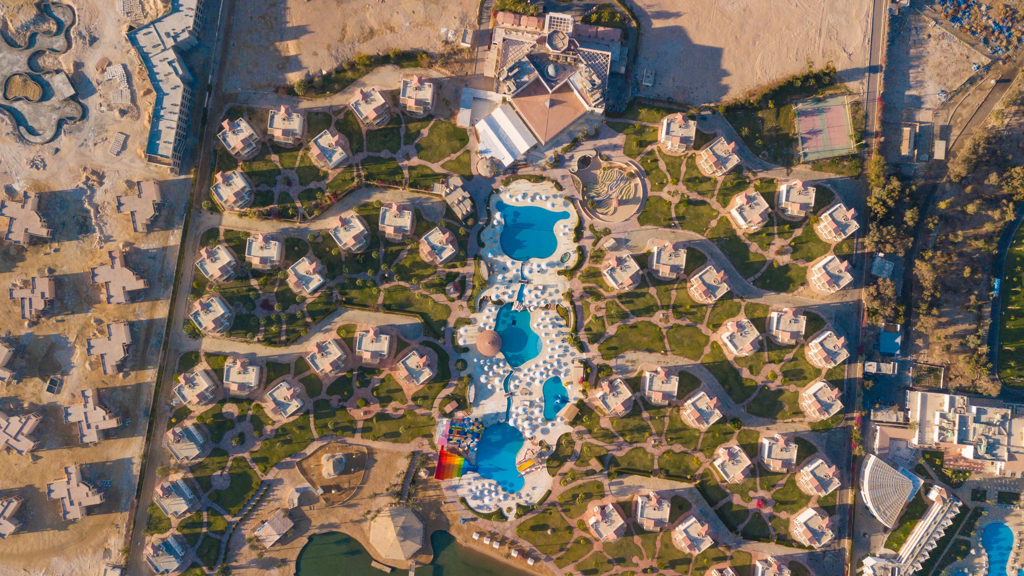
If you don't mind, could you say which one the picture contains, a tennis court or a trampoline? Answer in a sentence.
Of the two, only a tennis court appears.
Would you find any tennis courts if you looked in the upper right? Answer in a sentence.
Yes, a tennis court can be seen in the upper right.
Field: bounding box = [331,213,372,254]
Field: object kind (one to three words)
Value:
house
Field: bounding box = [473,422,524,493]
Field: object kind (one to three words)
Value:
swimming pool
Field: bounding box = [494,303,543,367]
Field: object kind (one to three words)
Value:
swimming pool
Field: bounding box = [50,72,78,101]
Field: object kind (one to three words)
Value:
building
